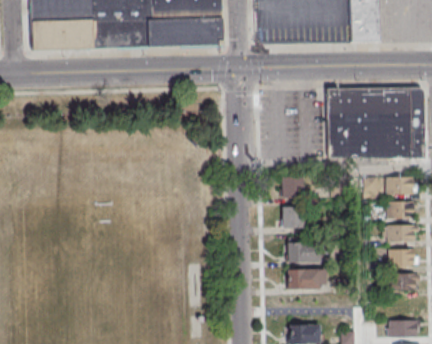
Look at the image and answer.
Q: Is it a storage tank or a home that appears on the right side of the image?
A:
home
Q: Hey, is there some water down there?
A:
No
